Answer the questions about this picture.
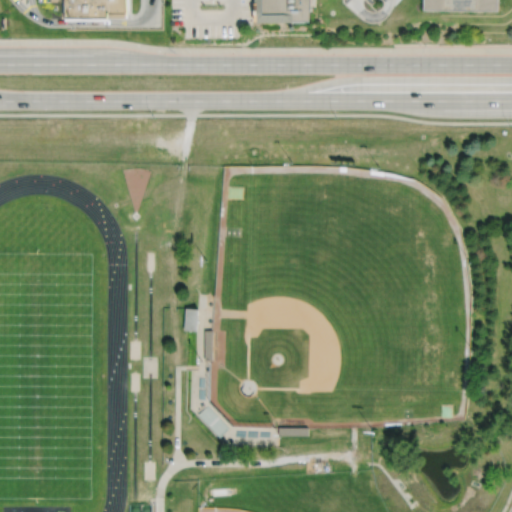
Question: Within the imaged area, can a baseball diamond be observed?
Yes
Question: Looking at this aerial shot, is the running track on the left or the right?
left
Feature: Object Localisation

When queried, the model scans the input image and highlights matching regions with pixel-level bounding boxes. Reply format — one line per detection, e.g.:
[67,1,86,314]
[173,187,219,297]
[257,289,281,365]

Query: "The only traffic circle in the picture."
[343,0,402,24]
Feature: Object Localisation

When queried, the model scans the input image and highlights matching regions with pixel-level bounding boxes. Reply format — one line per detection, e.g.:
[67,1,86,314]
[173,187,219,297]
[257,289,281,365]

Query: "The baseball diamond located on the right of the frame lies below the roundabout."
[212,166,472,428]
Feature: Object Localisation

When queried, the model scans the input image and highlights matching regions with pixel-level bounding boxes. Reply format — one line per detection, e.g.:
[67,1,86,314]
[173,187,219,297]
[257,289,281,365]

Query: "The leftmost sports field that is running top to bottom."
[0,250,94,502]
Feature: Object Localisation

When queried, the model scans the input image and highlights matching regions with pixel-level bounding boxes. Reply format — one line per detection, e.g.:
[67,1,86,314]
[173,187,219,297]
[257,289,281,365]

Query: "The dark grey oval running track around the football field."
[0,176,127,512]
